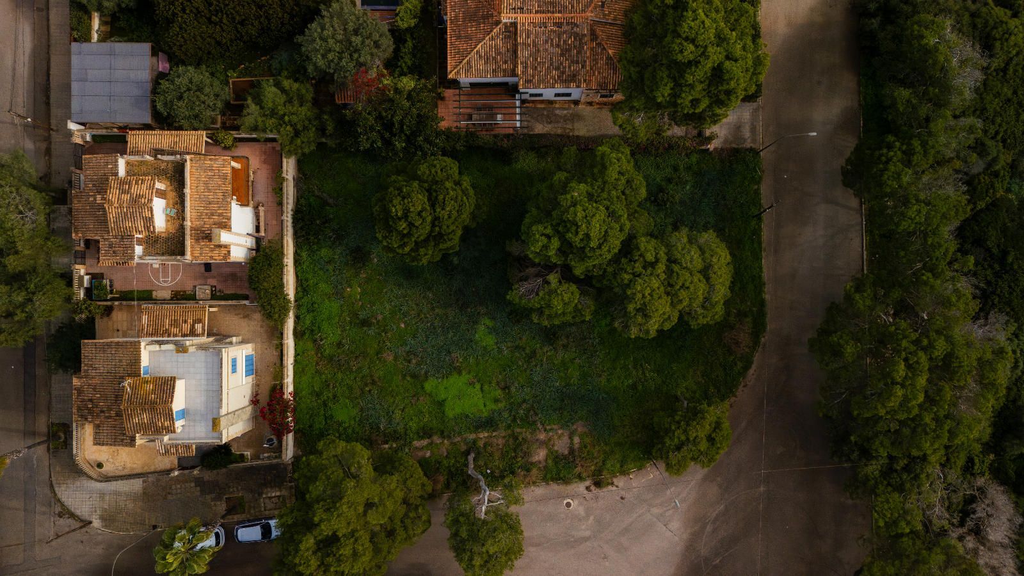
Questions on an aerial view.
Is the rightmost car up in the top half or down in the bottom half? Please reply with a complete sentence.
Seen from above, the rightmost car lies in the bottom half of the view.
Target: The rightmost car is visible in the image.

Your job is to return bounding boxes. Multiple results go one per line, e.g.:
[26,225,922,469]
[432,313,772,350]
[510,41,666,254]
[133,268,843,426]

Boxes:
[230,520,280,546]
